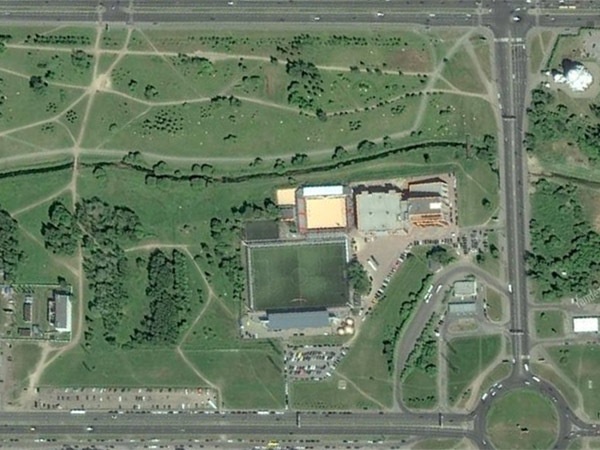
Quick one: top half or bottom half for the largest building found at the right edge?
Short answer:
top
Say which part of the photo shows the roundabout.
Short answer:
bottom right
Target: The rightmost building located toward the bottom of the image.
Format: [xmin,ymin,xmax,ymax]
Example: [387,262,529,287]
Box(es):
[574,318,599,332]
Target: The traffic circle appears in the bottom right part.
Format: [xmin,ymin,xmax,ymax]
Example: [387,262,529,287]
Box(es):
[475,377,570,450]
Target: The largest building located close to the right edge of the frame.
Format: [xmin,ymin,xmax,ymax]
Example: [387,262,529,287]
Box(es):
[566,66,595,91]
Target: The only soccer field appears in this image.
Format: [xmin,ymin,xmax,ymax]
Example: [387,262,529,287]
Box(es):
[243,235,350,309]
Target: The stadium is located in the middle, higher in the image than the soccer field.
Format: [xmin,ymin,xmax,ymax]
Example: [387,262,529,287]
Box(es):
[296,186,356,234]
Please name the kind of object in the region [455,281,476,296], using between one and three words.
building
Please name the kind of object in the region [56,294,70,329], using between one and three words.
shed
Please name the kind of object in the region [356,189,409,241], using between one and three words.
building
